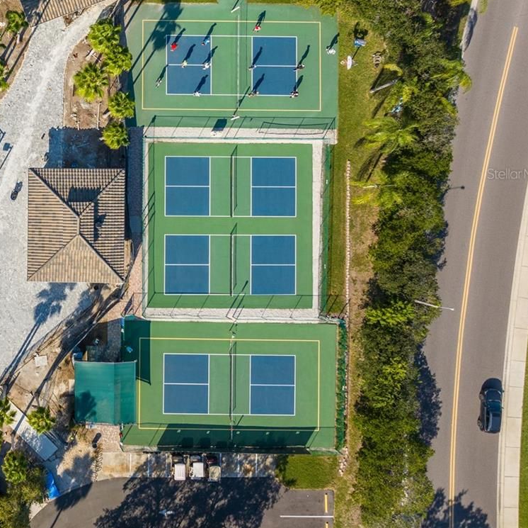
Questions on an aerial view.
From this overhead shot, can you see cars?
Yes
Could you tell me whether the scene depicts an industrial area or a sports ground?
sports ground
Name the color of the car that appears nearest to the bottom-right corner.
black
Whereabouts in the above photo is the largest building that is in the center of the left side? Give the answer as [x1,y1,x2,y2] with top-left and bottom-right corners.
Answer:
[27,168,126,283]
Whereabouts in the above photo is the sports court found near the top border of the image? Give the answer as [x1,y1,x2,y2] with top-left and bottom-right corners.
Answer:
[127,0,338,128]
